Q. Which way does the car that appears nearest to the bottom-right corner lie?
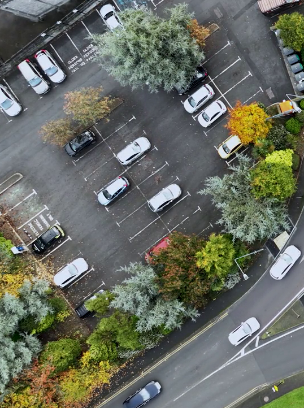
diagonally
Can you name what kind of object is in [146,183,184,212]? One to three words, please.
car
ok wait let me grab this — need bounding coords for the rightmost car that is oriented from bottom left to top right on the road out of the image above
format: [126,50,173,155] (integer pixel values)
[268,245,302,281]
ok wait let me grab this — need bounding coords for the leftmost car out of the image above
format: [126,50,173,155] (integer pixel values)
[0,82,24,118]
